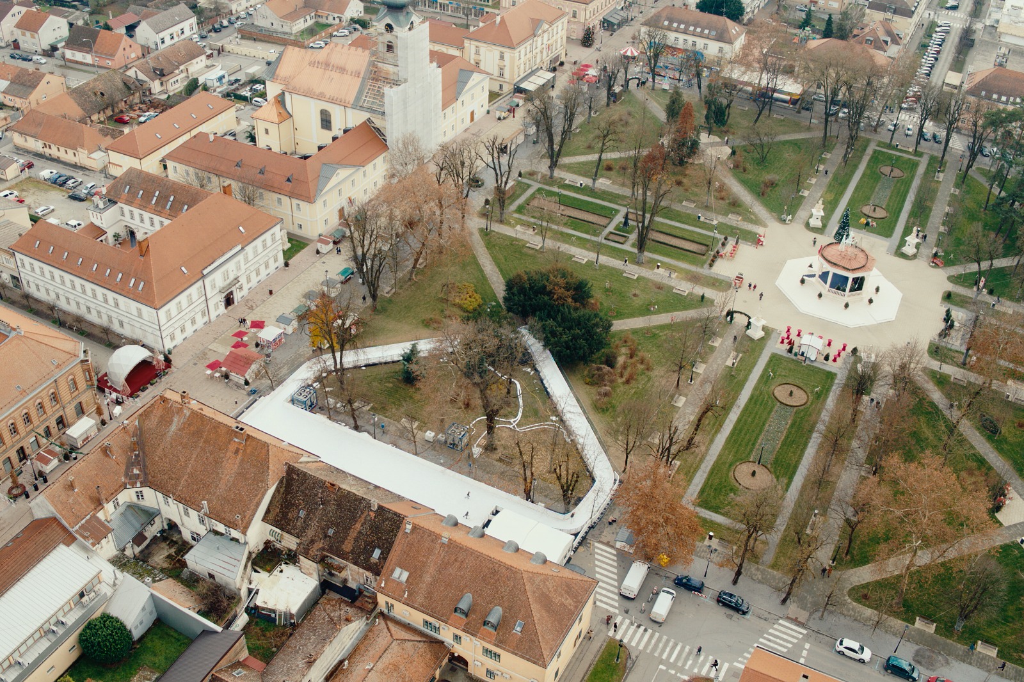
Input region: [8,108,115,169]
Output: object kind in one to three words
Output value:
house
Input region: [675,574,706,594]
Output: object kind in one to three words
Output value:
car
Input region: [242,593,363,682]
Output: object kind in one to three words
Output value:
shed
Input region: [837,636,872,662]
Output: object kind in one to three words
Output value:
car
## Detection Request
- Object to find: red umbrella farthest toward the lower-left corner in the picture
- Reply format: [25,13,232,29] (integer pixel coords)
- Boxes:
[205,359,224,373]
